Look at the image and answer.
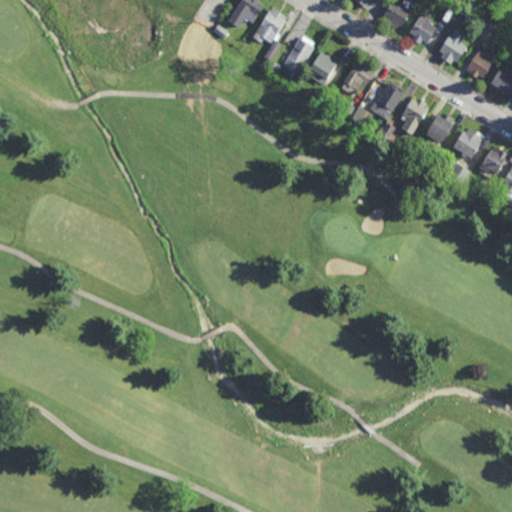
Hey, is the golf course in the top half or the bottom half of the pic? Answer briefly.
bottom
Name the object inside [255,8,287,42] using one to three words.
house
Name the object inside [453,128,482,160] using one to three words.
house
